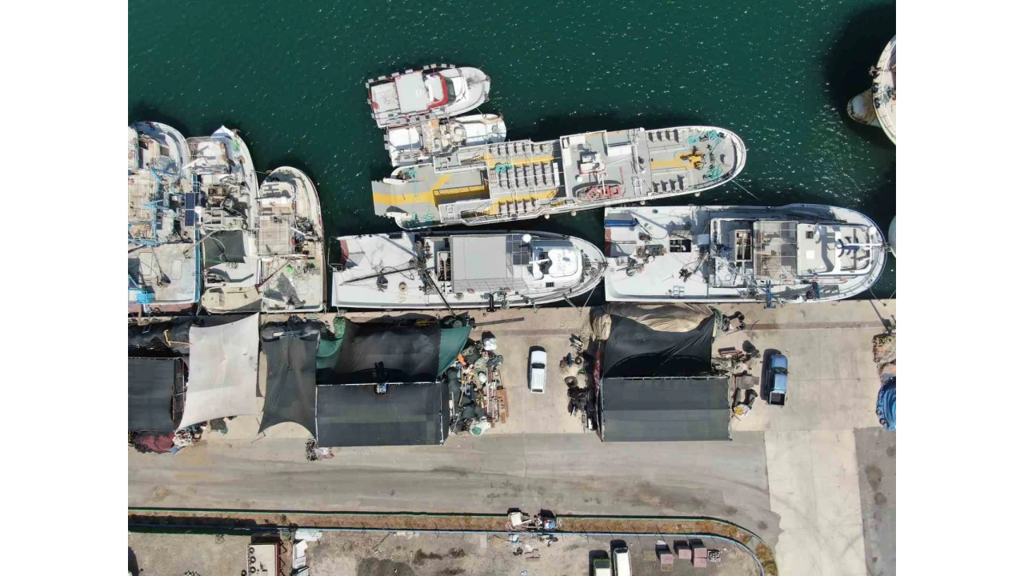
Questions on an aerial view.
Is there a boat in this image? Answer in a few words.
Yes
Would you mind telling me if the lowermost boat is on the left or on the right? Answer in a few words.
left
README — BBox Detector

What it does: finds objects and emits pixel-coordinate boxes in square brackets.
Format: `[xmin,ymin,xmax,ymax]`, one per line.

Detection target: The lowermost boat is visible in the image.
[202,284,266,313]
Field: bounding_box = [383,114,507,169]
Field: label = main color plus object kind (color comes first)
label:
white boat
